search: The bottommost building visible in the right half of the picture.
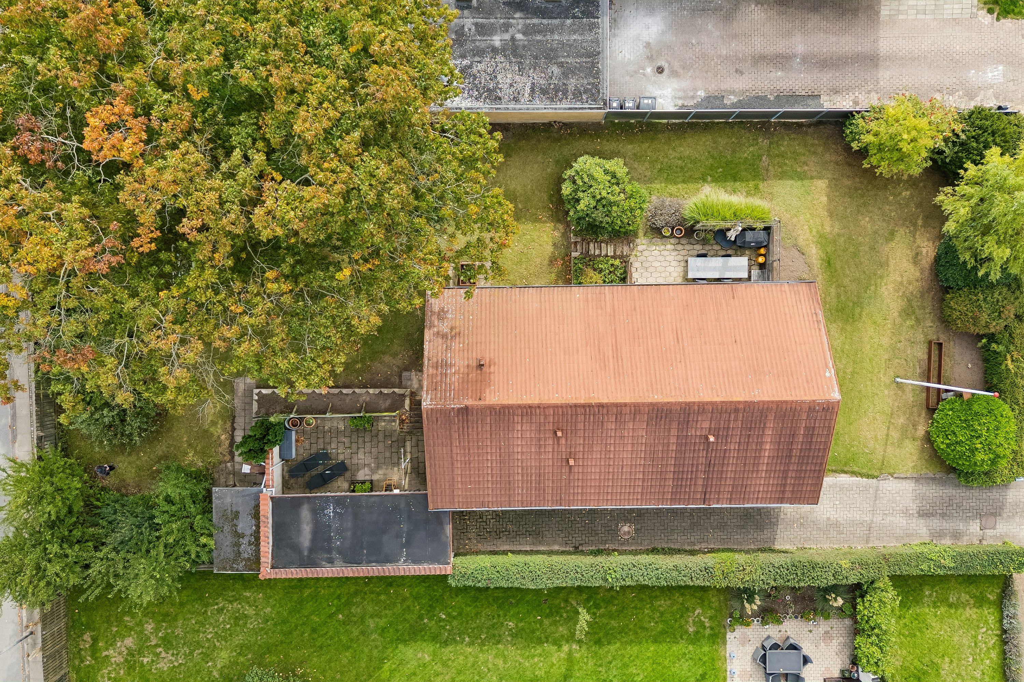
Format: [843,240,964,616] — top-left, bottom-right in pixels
[421,279,842,513]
